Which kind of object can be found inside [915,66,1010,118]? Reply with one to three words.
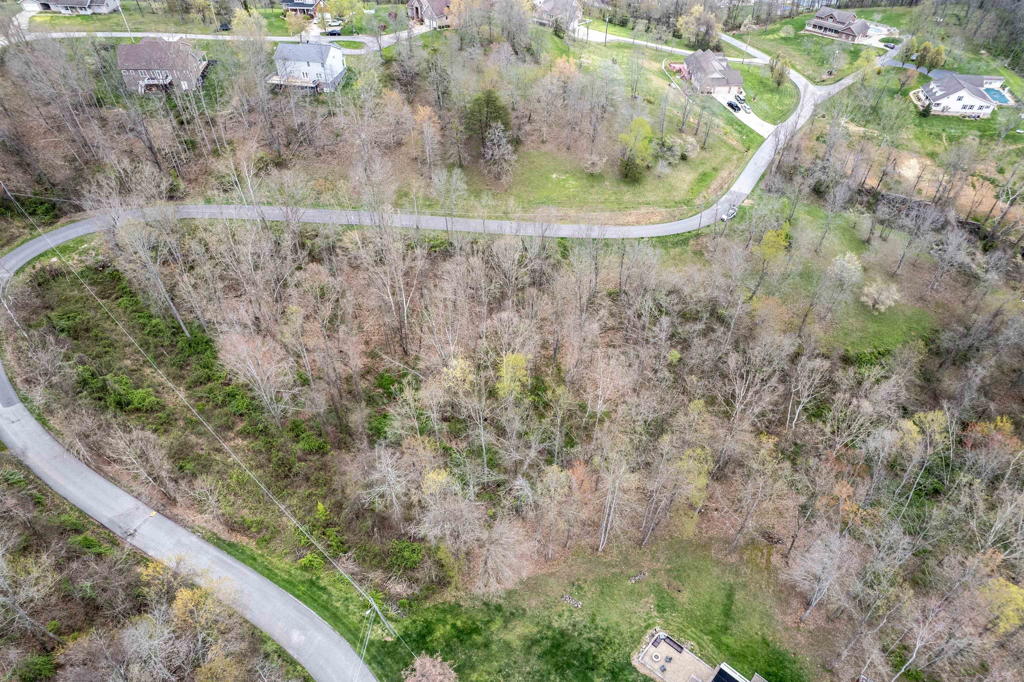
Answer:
house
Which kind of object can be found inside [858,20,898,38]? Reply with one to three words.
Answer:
swimming pool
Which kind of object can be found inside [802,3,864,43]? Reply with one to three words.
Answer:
house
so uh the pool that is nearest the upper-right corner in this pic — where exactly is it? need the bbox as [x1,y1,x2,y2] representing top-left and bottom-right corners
[991,92,1015,107]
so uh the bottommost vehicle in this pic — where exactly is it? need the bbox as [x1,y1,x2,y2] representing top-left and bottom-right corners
[721,204,738,220]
